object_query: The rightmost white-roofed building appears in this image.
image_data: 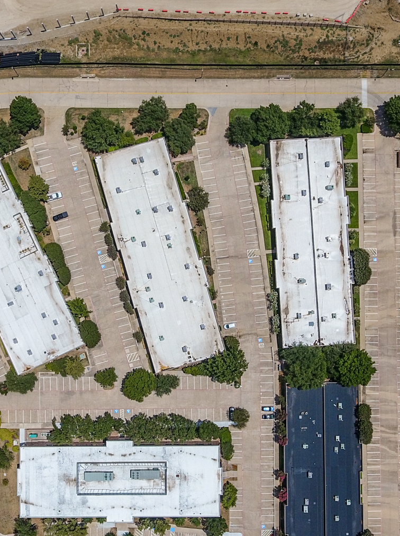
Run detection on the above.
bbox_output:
[268,136,356,348]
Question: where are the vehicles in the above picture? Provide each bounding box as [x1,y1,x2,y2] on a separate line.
[261,413,274,420]
[261,406,274,411]
[229,405,234,419]
[52,212,69,221]
[47,191,62,201]
[223,322,236,330]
